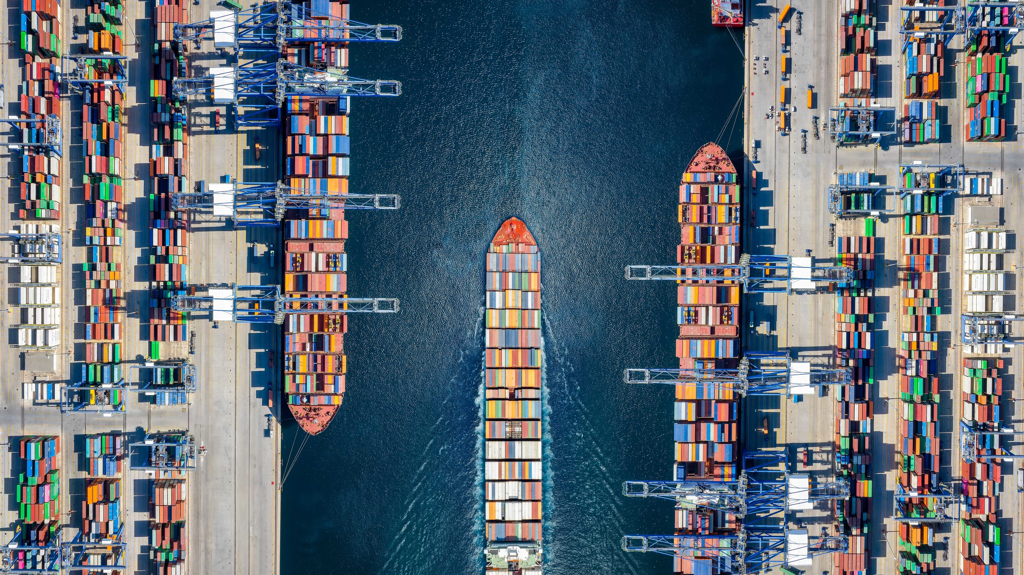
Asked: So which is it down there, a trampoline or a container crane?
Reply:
container crane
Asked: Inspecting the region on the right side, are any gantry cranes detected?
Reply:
Yes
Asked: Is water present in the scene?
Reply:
Yes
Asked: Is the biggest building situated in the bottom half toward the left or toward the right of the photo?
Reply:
left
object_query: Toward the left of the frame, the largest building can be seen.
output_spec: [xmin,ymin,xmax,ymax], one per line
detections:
[25,351,63,373]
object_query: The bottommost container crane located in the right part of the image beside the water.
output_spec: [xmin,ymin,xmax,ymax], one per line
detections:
[621,508,854,565]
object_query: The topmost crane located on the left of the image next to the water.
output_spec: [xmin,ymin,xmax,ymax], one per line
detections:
[170,10,403,67]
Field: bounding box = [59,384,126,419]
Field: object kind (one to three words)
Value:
container crane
